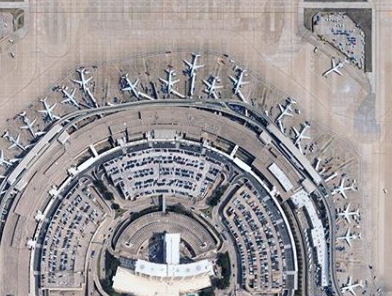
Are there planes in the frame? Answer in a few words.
Yes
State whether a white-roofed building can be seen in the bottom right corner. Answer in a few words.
Yes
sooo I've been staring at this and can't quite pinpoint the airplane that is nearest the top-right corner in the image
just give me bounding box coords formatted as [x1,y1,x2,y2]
[325,57,346,75]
